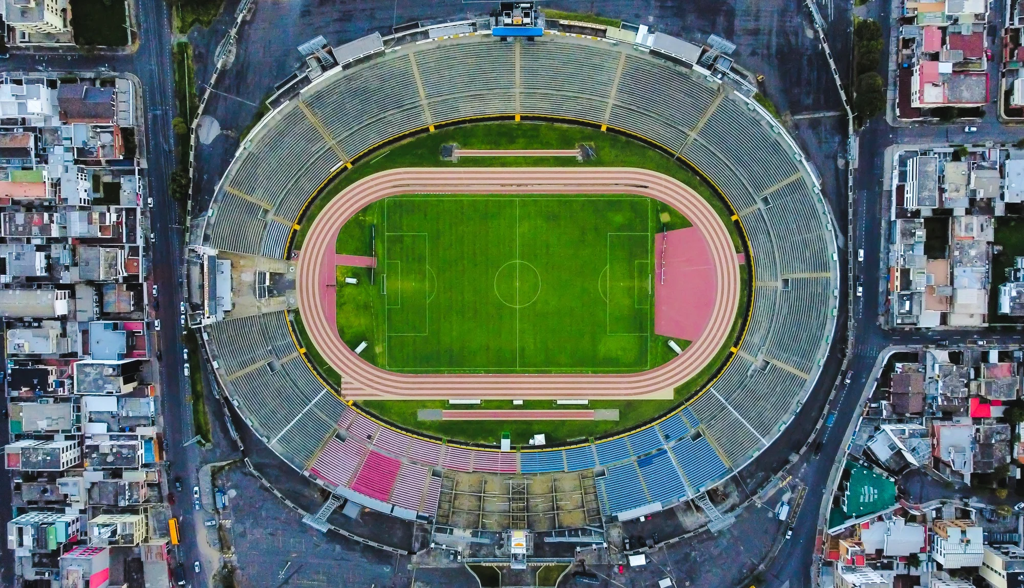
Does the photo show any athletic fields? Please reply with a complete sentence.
Yes, there's an athletic field here.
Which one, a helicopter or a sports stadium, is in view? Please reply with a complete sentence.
The image shows a sports stadium.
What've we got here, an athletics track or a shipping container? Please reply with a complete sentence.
I can see an athletics track in this picture.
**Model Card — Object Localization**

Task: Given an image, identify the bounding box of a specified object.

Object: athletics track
[299,168,739,399]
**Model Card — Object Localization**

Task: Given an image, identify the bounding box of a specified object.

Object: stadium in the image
[199,31,839,547]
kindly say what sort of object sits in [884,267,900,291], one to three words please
house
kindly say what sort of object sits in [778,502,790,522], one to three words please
vehicle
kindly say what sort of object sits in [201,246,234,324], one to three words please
building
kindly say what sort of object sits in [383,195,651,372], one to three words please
sports field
